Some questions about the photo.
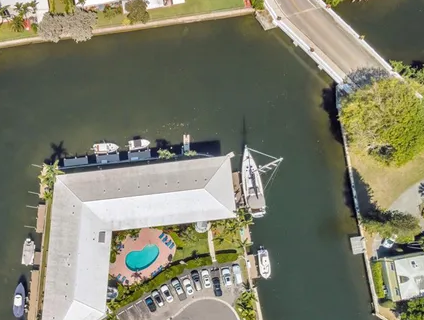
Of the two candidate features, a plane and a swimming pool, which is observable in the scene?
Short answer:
swimming pool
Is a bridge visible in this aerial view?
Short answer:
Yes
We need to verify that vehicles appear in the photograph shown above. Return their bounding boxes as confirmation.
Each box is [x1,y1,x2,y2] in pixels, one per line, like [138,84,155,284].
[145,296,157,313]
[220,267,232,287]
[171,277,186,300]
[231,264,243,285]
[211,275,223,298]
[201,269,211,289]
[151,288,164,308]
[189,269,203,292]
[161,282,173,303]
[182,277,193,297]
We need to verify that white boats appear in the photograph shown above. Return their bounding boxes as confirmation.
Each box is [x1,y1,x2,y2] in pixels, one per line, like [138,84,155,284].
[91,142,118,154]
[256,245,271,278]
[126,139,149,151]
[242,144,281,219]
[22,238,34,265]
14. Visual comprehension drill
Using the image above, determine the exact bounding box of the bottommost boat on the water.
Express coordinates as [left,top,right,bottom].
[13,283,26,318]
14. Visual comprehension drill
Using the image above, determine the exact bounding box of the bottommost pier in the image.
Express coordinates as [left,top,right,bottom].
[27,271,39,320]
